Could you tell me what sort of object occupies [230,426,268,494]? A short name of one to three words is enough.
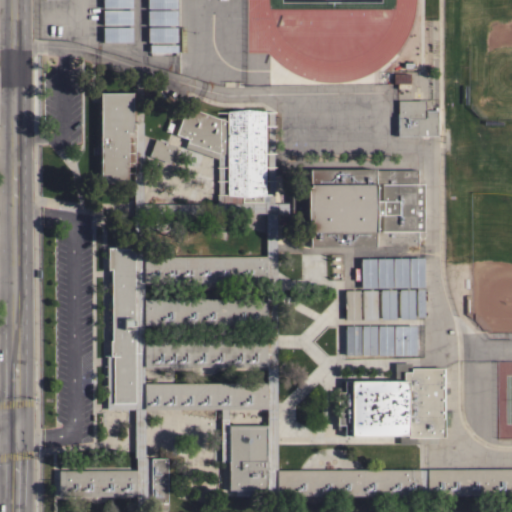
building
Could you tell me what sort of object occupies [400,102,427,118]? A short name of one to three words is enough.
building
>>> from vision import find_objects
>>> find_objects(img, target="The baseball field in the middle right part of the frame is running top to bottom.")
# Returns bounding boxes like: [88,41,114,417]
[473,194,512,334]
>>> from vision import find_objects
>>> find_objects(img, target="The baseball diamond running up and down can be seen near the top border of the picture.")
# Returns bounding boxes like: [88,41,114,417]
[471,0,512,121]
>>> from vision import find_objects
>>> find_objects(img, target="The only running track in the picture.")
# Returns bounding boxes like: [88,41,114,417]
[250,0,417,82]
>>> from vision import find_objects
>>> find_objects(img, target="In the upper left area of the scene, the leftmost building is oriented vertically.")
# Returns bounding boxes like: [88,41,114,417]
[102,93,136,180]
